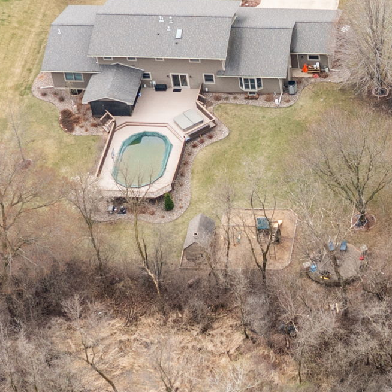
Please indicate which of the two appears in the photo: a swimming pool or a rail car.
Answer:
swimming pool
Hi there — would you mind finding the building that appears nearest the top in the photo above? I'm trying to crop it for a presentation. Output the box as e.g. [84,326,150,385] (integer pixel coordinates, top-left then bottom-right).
[41,0,344,116]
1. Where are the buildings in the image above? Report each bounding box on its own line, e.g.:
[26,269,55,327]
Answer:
[41,0,344,116]
[175,217,215,269]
